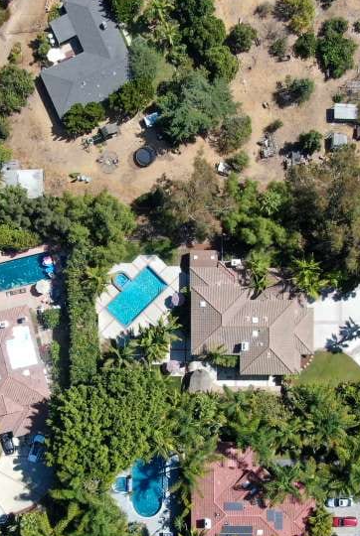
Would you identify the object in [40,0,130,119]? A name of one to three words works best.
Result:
house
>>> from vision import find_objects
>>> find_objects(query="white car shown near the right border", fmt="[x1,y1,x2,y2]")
[327,497,354,510]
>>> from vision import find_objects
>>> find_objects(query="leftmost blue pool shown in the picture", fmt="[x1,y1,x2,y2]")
[0,249,57,292]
